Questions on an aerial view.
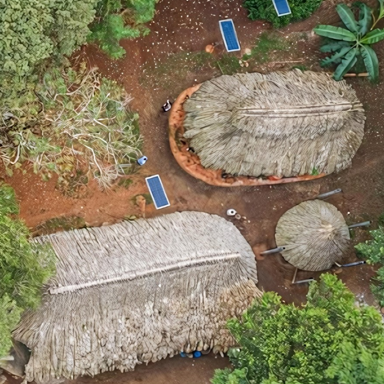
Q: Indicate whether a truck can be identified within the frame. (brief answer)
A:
No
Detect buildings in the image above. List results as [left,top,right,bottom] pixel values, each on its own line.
[272,195,355,274]
[2,205,267,384]
[167,66,371,189]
